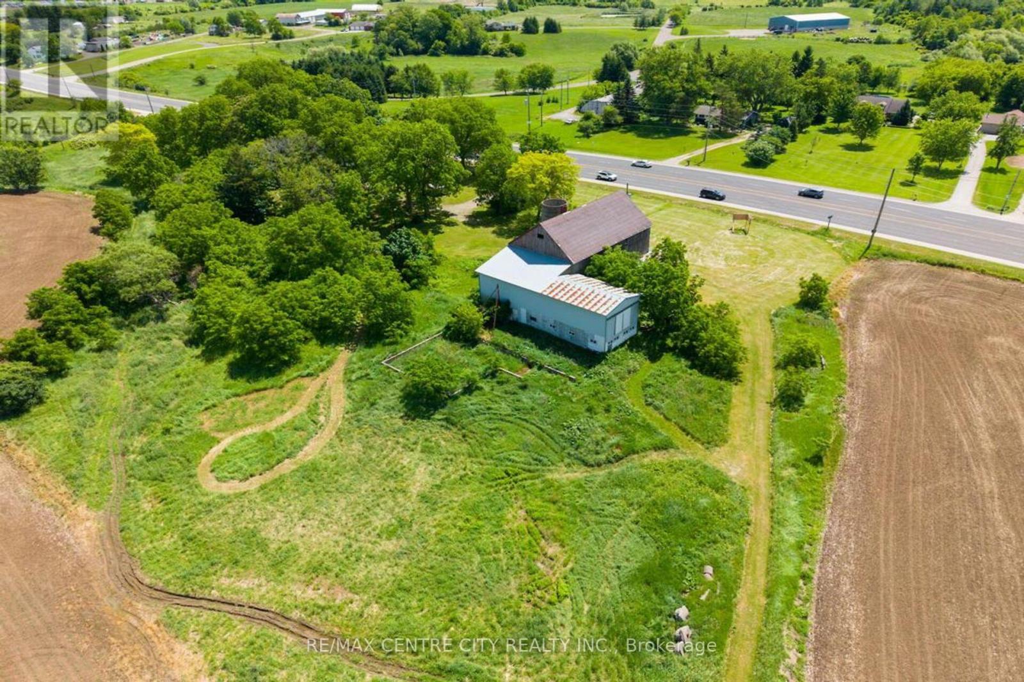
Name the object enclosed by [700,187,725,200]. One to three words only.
vehicle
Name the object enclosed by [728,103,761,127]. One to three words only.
shed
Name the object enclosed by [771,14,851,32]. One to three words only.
building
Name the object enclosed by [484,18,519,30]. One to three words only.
house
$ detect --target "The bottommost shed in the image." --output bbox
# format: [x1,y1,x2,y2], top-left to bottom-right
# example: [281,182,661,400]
[474,244,642,353]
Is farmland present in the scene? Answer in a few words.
Yes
